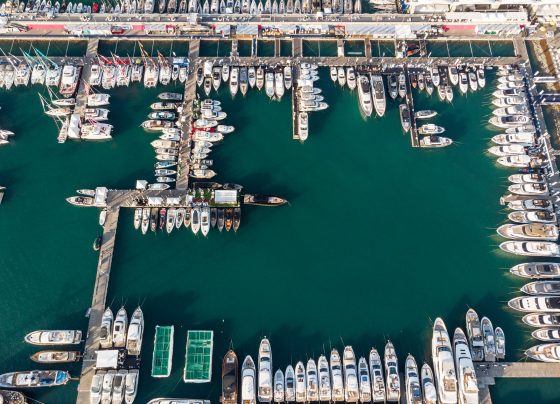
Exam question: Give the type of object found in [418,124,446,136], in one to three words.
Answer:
boat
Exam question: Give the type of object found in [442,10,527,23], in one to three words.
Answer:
building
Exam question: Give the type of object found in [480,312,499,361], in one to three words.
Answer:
ship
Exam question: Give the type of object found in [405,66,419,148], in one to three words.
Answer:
pier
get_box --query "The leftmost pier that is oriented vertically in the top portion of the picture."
[68,65,90,138]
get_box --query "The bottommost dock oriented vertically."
[75,207,120,404]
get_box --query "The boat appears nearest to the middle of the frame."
[244,194,288,207]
